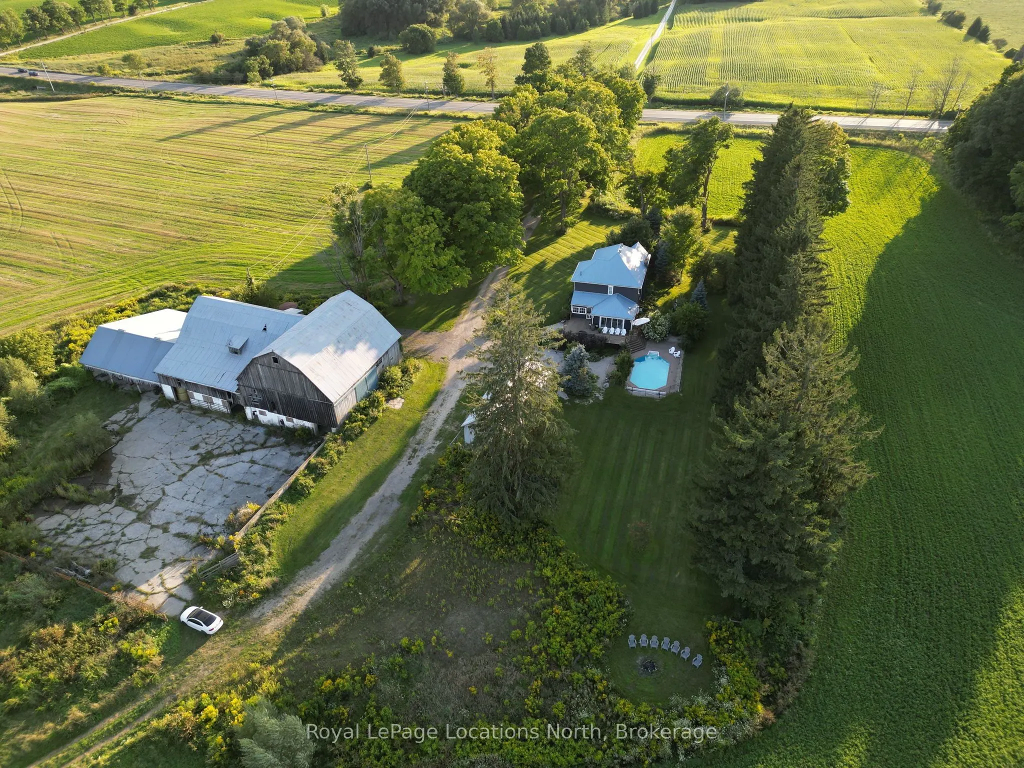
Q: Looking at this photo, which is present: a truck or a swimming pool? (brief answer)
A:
swimming pool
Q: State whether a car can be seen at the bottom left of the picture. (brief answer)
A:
Yes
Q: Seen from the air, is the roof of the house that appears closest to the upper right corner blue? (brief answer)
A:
Yes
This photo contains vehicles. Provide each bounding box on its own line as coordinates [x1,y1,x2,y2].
[27,70,39,76]
[16,68,28,73]
[178,606,226,639]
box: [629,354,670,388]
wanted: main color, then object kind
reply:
blue swimming pool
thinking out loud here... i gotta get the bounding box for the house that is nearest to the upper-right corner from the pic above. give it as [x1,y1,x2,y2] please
[568,239,652,339]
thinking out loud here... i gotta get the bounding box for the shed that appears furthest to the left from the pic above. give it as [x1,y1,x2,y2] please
[79,308,189,399]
